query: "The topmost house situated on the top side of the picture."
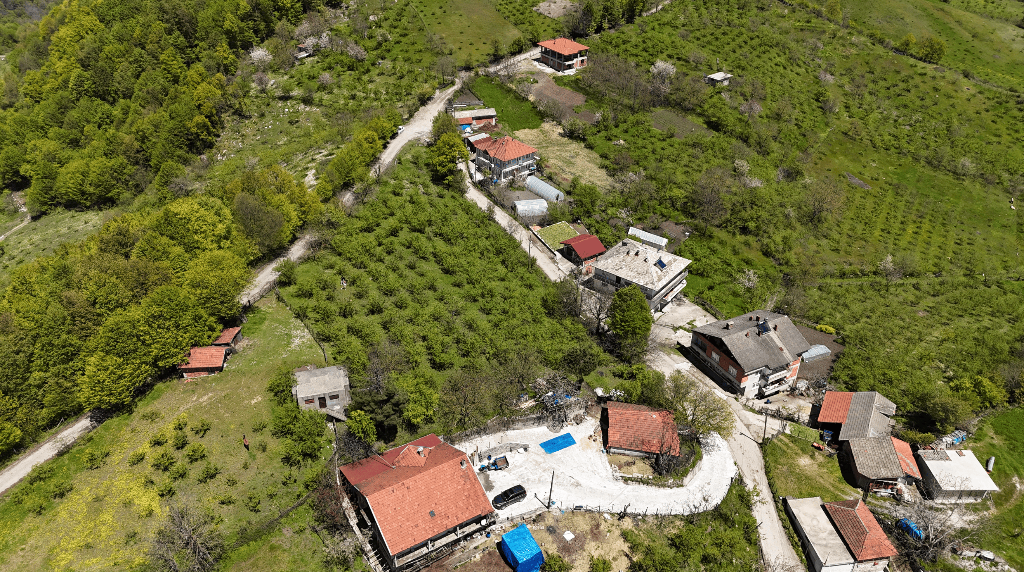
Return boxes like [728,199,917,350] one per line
[537,33,589,74]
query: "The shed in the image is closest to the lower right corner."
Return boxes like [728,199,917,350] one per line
[917,451,999,504]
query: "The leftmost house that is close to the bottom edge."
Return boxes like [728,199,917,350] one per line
[339,433,496,572]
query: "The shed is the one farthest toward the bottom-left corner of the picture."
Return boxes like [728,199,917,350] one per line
[181,343,232,378]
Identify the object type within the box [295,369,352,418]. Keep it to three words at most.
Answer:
shed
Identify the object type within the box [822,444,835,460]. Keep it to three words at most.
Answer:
vehicle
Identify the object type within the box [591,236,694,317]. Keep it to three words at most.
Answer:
house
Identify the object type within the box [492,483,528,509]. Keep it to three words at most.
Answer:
car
